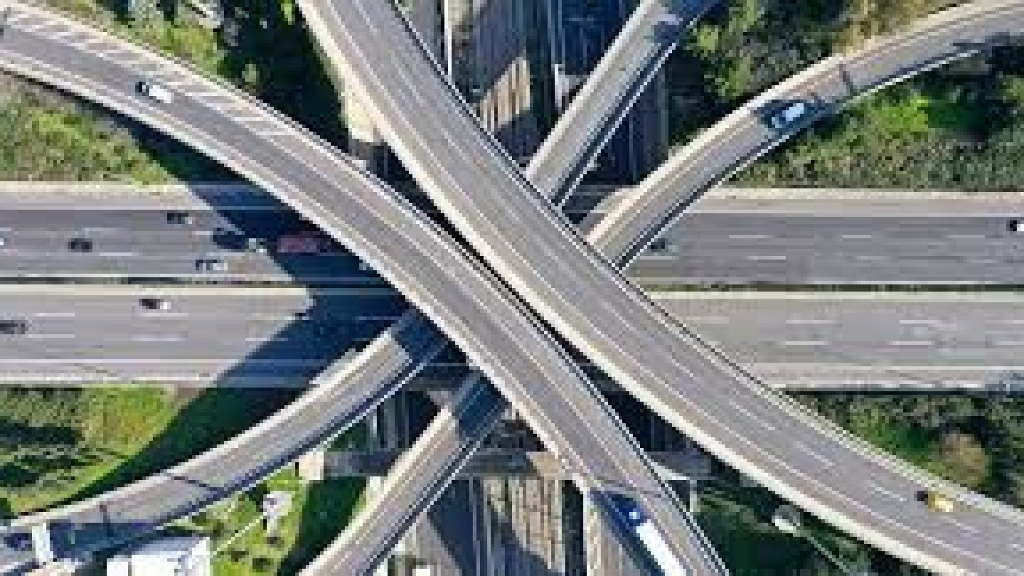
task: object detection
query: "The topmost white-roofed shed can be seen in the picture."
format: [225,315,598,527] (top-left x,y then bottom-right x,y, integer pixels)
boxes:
[264,498,285,516]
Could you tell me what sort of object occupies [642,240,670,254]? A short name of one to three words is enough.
car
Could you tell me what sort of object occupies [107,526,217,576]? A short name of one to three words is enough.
building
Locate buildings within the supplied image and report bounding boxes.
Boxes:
[264,498,285,516]
[27,560,90,576]
[107,526,217,576]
